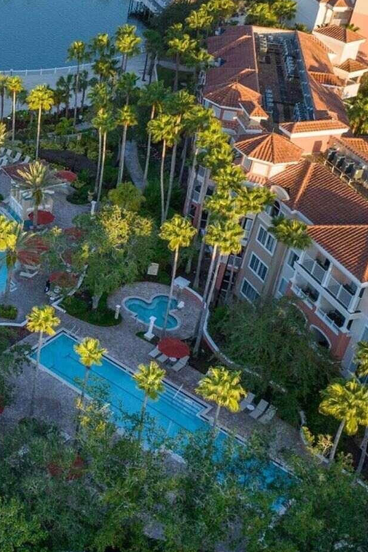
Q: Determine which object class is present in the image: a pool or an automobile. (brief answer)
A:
pool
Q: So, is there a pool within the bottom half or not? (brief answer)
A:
Yes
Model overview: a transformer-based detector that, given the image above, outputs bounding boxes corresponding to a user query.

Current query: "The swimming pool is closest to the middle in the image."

[122,293,181,332]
